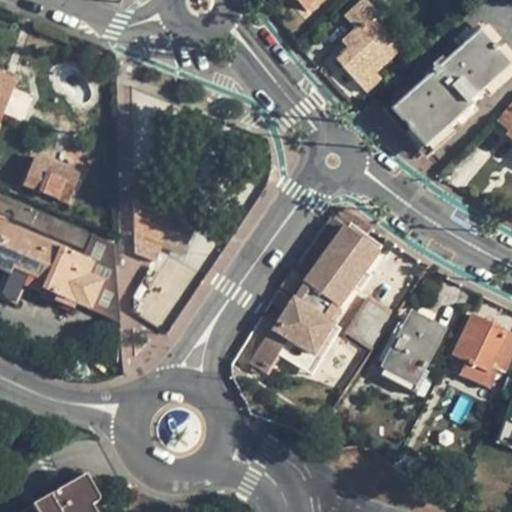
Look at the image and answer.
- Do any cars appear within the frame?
Yes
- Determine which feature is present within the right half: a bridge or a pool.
pool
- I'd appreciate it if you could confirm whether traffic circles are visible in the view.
Yes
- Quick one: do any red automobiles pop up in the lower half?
No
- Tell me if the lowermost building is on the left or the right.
left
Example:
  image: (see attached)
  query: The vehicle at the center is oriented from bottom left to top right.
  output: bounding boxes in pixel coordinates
[266,248,283,268]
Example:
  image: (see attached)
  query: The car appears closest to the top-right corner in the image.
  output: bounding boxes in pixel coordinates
[326,23,345,44]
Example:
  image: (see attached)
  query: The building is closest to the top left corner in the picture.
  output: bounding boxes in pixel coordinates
[0,66,34,121]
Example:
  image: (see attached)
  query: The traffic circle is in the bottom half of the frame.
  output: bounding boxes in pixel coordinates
[152,402,206,457]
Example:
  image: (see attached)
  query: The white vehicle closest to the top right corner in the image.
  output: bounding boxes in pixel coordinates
[377,153,398,172]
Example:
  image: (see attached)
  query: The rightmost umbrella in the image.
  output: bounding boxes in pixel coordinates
[439,429,454,445]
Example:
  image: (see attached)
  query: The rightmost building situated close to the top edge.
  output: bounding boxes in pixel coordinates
[393,24,512,154]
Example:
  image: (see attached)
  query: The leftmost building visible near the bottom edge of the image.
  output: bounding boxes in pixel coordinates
[34,472,106,512]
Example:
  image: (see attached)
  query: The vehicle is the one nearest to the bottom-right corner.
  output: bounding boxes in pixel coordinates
[439,304,452,326]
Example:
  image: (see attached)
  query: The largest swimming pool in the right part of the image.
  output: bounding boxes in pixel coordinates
[450,394,472,422]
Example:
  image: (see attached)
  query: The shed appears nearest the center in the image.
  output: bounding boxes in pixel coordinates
[187,231,218,270]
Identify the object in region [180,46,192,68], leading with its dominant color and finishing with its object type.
white vehicle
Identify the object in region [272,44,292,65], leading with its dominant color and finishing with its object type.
white car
